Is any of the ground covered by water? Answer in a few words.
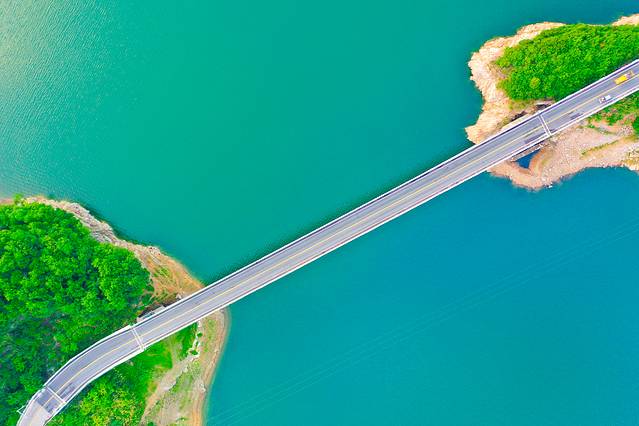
Yes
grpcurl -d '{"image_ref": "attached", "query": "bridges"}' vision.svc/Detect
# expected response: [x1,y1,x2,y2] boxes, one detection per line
[31,112,553,415]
